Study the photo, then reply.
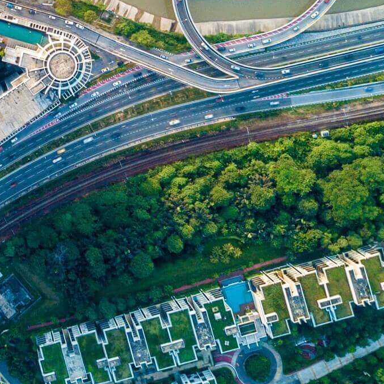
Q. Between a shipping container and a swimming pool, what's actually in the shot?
swimming pool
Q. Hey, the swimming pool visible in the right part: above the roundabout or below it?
above it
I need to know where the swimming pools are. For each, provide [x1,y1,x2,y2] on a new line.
[219,274,252,313]
[0,20,49,45]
